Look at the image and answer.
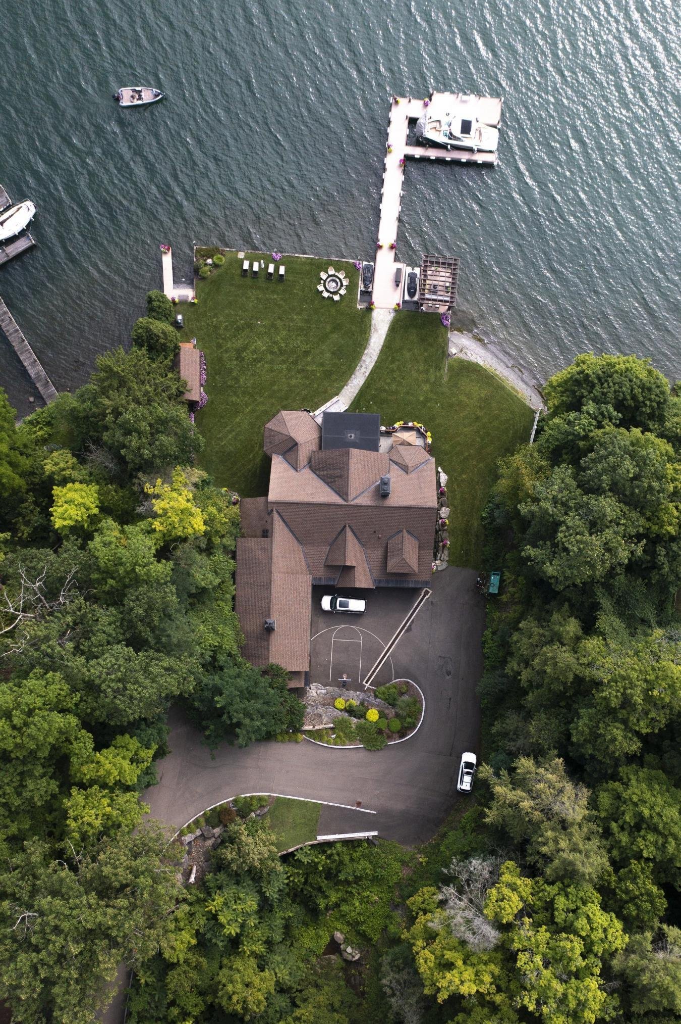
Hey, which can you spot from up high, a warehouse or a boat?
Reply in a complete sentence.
Looking from above, you can make out a boat.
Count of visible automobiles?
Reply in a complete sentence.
There are 2 automobiles in the image.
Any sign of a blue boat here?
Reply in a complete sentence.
No, the frame has no blue boat in it.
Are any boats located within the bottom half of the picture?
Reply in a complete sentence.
No, no boat appears within the bottom half of the picture.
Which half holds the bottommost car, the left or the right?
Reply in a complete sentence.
The bottommost car appears in the right half of the scene.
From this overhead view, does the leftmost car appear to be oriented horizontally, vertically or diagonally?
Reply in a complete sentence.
The leftmost car has been laid out horizontally relative to the frame.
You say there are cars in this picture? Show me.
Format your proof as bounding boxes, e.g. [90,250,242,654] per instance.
[321,594,367,616]
[457,753,480,795]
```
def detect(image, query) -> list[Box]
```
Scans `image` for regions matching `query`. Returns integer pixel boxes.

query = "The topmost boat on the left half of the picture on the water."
[113,84,164,103]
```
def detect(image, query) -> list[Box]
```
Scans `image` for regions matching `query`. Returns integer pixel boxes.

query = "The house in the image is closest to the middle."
[235,410,439,687]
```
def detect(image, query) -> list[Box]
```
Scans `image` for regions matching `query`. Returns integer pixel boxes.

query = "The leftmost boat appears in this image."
[0,193,35,237]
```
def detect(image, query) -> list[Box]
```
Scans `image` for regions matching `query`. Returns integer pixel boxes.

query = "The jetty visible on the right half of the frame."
[371,92,504,310]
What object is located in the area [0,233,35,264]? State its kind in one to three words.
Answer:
pier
